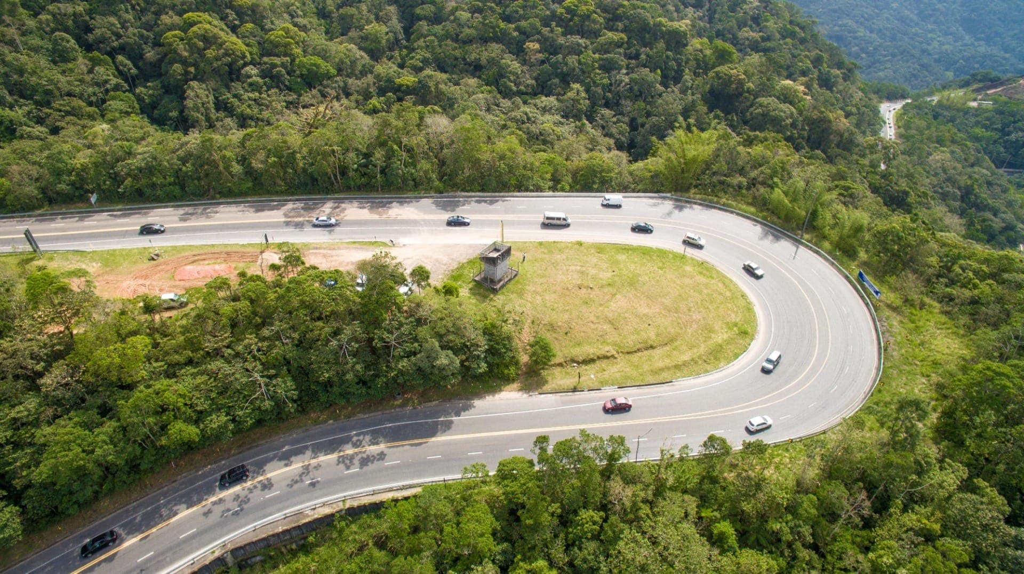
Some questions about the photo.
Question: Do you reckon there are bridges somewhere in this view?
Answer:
No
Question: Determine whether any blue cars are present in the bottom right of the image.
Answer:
No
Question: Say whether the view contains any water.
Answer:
No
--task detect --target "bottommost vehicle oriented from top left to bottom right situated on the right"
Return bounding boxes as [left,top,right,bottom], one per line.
[743,261,764,277]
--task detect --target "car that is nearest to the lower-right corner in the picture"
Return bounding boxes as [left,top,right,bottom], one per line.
[746,416,774,432]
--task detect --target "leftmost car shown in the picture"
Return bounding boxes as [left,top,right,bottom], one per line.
[79,531,117,558]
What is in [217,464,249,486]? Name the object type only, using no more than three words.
car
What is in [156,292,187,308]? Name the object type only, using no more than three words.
car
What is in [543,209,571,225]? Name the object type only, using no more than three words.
vehicle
